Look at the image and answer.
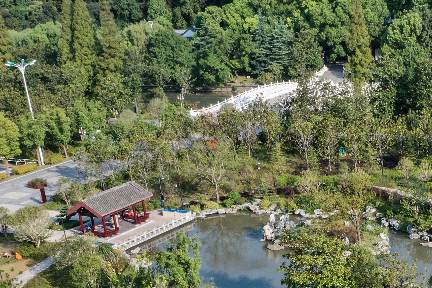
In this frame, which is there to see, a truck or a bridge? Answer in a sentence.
The image shows a bridge.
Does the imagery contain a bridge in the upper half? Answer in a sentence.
Yes, in the upper half there is a bridge.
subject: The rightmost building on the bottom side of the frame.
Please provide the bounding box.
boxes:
[64,183,155,238]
